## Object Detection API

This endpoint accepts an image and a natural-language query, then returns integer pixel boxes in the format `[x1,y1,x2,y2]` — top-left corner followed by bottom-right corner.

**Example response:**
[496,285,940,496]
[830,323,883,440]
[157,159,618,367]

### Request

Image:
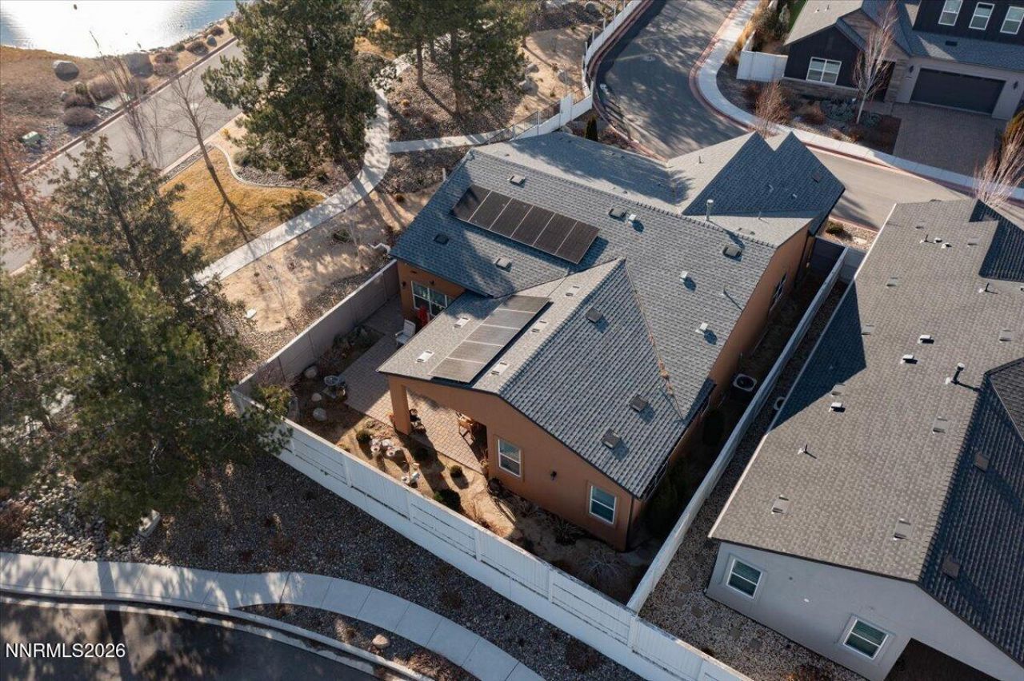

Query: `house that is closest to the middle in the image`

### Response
[375,132,848,550]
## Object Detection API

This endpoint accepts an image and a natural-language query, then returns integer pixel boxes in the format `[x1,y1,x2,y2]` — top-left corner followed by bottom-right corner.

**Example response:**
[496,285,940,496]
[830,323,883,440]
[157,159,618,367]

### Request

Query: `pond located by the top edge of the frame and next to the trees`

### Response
[0,0,228,56]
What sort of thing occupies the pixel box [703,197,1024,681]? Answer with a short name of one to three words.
house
